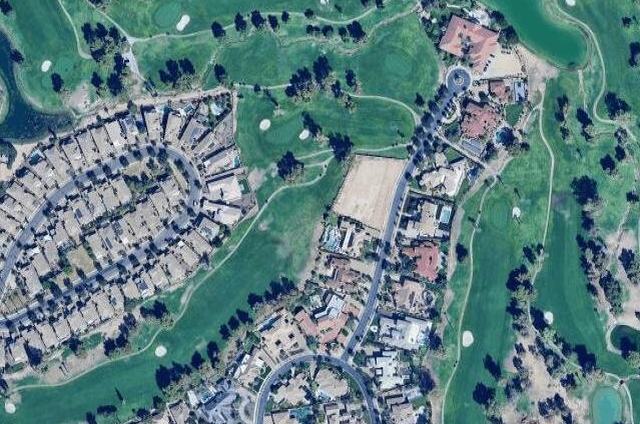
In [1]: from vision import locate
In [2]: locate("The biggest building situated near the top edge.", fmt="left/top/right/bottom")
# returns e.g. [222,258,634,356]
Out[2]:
[440,14,498,79]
